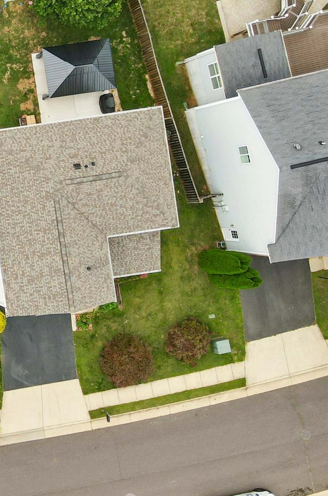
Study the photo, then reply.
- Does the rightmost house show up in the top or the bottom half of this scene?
top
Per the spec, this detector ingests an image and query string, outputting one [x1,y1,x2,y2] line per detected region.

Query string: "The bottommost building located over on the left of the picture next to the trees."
[0,106,180,316]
